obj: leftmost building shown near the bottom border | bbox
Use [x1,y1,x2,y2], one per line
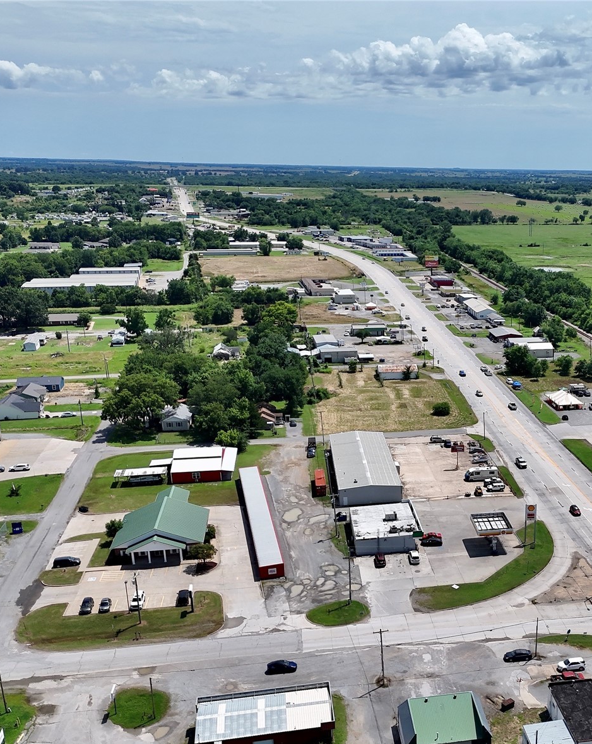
[192,671,339,744]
